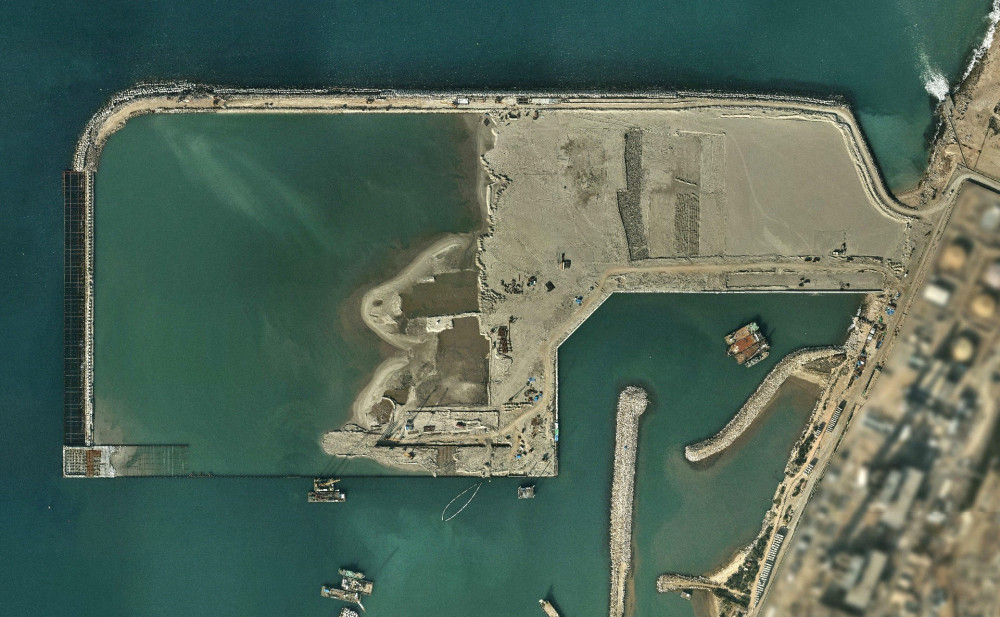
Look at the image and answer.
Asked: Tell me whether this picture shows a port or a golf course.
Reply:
port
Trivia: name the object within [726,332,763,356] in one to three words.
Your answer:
ship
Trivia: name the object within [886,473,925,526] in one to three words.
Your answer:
building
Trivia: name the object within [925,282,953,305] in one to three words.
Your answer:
building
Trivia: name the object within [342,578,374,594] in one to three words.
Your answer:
ship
